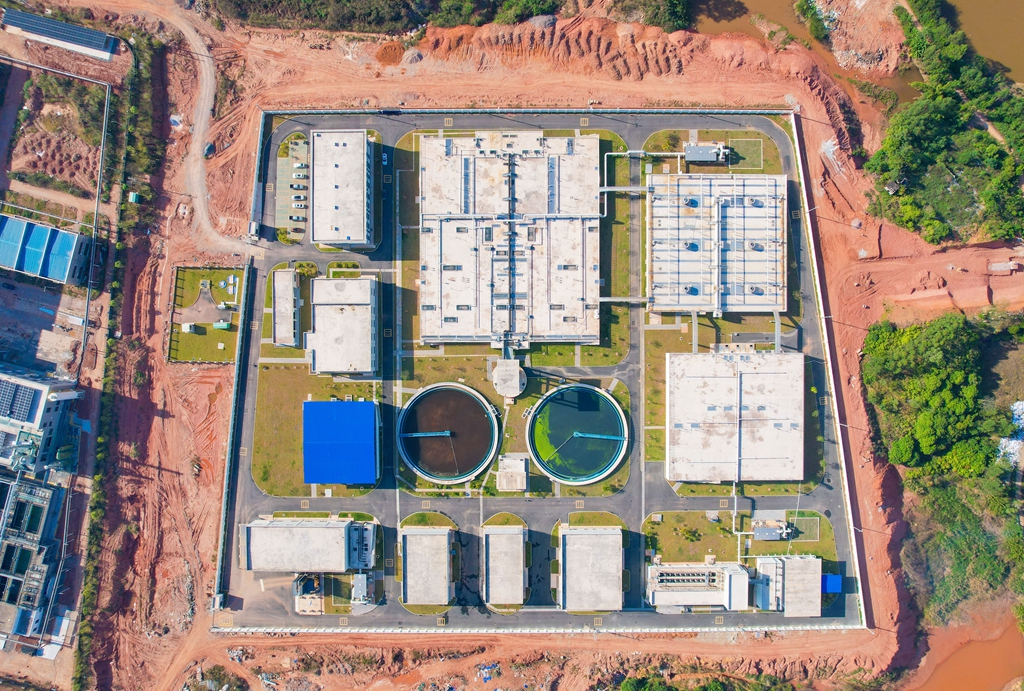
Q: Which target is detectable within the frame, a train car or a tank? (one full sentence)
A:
Visible in the photo is a tank.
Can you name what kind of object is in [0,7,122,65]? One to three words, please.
shed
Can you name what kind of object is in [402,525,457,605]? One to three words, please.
building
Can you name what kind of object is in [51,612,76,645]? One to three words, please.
shed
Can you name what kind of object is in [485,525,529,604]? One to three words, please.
building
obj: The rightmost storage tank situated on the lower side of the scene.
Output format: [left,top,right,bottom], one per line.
[526,383,628,485]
